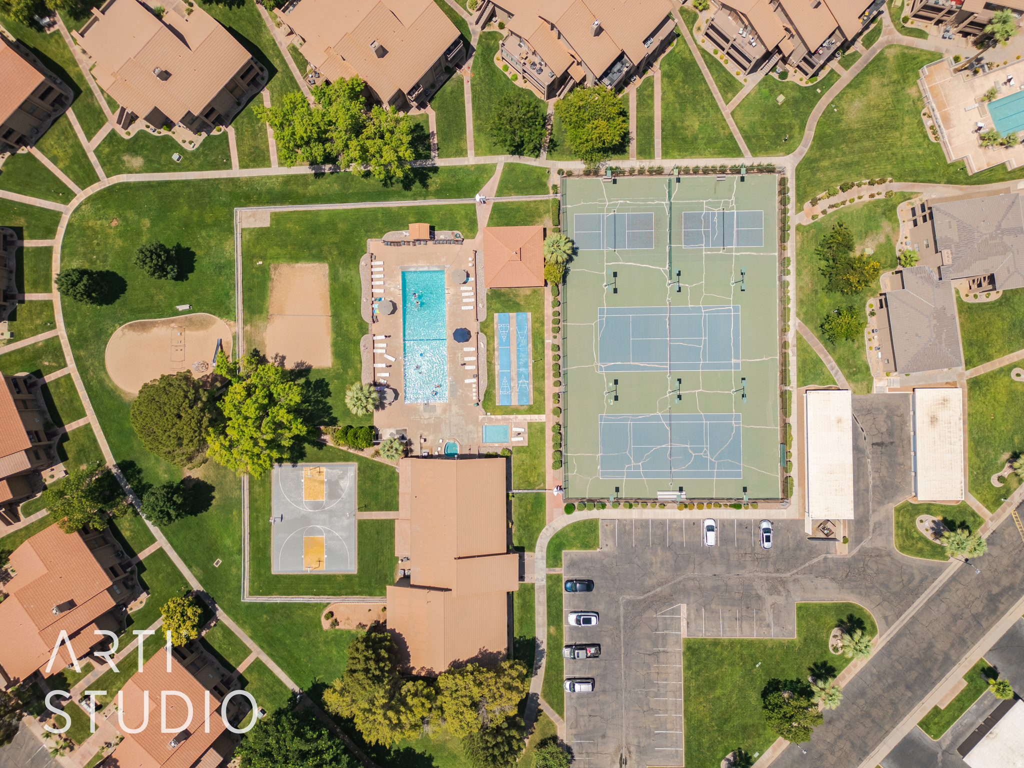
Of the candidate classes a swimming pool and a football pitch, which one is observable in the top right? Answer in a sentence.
The one visible in the top right is a swimming pool.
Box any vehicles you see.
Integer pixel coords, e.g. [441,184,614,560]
[565,680,595,696]
[565,581,594,595]
[565,645,601,661]
[760,521,775,550]
[569,613,599,628]
[704,519,718,547]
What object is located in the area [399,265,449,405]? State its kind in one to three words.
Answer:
swimming pool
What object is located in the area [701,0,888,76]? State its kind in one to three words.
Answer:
building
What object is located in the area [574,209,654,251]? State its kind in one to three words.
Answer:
sports court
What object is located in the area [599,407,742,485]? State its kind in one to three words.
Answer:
tennis court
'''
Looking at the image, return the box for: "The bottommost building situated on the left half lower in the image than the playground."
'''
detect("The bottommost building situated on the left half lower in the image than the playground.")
[100,640,239,768]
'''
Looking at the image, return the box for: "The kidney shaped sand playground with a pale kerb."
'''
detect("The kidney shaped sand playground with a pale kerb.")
[104,312,234,396]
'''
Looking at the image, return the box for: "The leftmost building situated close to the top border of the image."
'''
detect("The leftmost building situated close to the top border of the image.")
[0,38,70,161]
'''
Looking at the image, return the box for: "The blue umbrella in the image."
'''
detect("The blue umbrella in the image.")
[452,327,469,344]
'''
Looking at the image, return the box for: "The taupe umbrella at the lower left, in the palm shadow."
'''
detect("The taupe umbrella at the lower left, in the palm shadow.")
[380,388,396,404]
